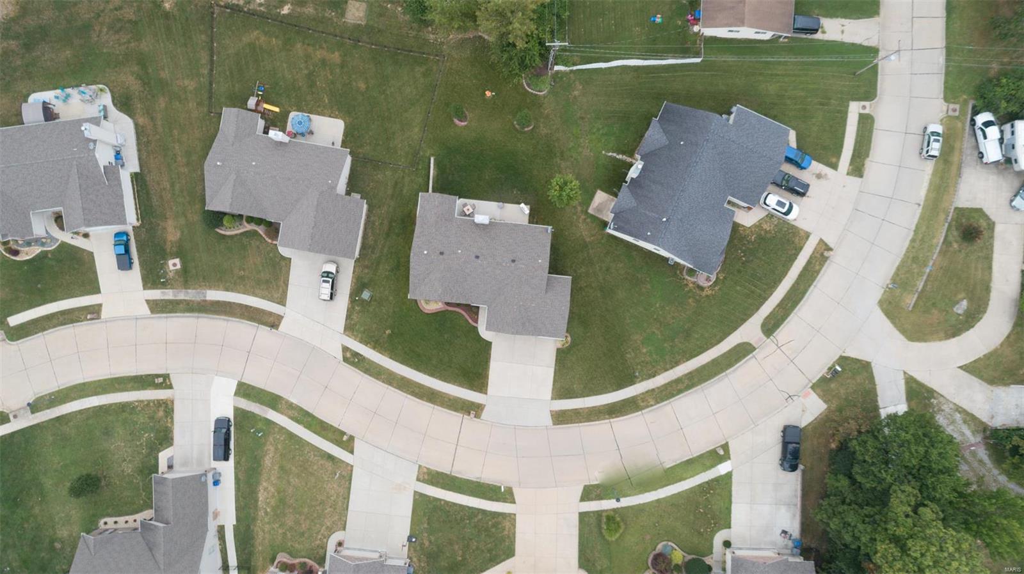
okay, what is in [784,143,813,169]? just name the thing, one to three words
car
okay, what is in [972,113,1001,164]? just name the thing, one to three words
truck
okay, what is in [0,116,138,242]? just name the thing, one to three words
house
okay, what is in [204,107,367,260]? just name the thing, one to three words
house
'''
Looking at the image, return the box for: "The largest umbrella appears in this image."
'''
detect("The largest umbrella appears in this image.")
[290,113,311,134]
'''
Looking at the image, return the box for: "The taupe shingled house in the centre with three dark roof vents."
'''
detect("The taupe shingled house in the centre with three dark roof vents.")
[409,191,572,340]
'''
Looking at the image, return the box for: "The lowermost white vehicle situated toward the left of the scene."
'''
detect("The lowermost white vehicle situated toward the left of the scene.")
[318,262,339,302]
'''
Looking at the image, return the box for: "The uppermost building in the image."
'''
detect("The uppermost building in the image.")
[698,0,793,42]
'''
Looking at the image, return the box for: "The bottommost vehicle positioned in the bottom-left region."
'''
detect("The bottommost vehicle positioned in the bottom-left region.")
[212,417,233,461]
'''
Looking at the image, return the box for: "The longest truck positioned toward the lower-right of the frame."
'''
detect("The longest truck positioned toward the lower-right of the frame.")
[780,424,801,471]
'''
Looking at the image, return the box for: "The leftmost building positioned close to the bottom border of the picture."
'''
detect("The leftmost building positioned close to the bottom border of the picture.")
[68,468,215,574]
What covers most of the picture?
grass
